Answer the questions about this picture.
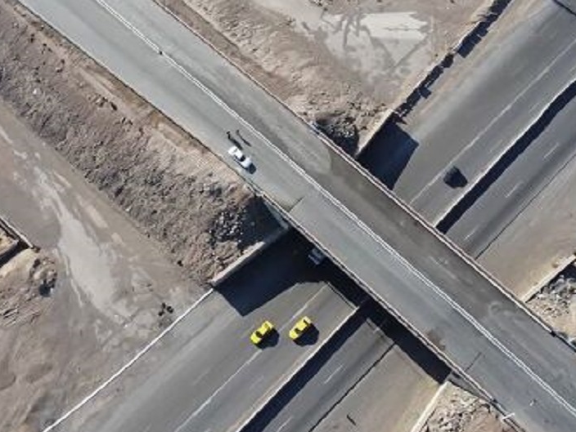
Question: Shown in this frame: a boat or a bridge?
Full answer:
Of the two, only a bridge appears.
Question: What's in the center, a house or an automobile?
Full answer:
Looking in the center, you will find an automobile.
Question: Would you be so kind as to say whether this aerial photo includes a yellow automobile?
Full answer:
Yes, the frame does contain a yellow automobile.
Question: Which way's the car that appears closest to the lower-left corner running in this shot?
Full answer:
I'd say the car that appears closest to the lower-left corner is aligned at an angle in the picture.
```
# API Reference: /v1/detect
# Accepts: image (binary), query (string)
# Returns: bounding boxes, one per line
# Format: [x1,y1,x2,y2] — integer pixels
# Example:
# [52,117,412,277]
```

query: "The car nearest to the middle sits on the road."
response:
[306,247,324,267]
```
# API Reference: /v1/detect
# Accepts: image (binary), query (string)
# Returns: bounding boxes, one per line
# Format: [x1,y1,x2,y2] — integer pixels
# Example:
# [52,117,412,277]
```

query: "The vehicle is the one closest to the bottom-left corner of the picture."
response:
[250,322,273,345]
